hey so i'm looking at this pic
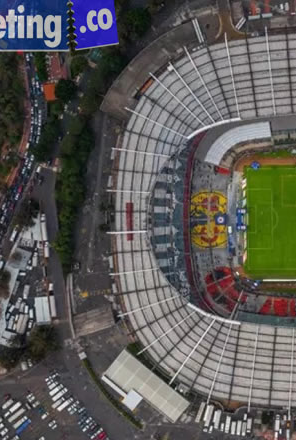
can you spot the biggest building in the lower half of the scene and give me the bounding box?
[102,346,193,423]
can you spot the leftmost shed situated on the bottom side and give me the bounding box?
[34,296,55,324]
